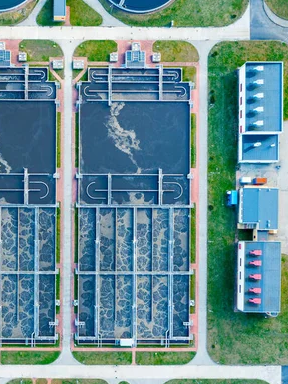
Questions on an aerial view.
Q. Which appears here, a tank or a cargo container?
tank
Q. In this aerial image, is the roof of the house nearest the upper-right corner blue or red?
blue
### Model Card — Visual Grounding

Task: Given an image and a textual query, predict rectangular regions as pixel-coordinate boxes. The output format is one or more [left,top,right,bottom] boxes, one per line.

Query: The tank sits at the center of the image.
[73,62,196,349]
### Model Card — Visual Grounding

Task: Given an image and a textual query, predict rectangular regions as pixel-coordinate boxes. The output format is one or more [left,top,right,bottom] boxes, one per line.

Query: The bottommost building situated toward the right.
[239,240,282,312]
